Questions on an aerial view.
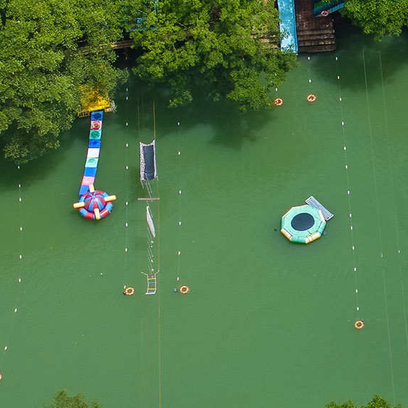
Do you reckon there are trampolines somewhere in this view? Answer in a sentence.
Yes, you can see a trampoline in this photo.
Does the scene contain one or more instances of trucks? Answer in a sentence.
No, no truck is visible in the scene.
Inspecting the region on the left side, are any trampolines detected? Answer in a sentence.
No, the scene shows no trampoline on the left side.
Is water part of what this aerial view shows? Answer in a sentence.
Yes, water shows up in the scene.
